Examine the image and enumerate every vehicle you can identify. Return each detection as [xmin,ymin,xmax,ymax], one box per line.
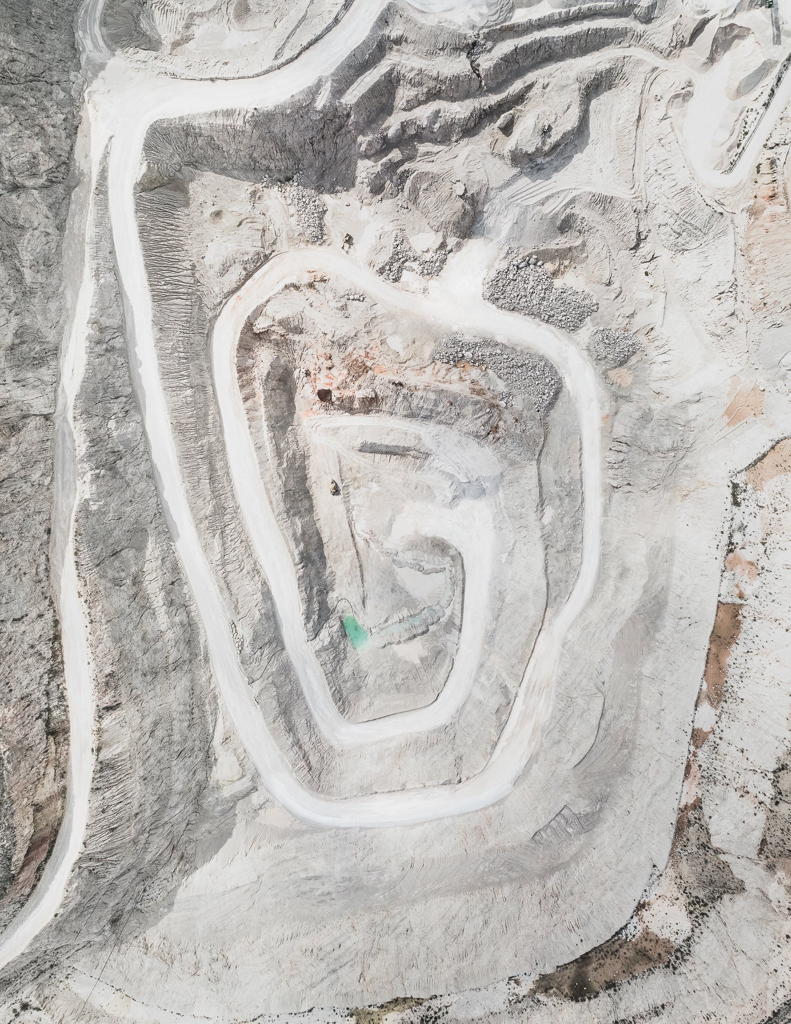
[330,479,339,492]
[341,231,351,251]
